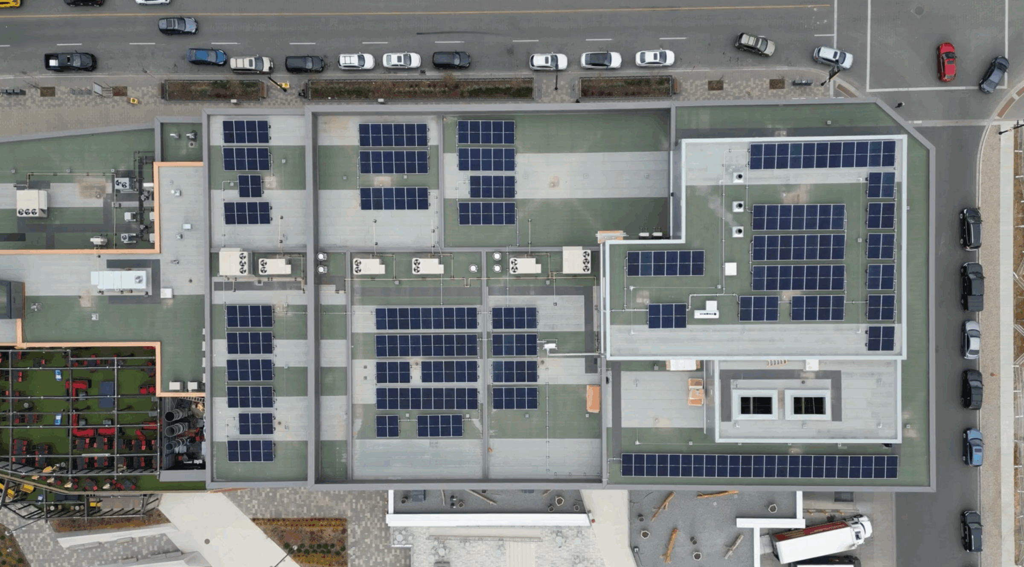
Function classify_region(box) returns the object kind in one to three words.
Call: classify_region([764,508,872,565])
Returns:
truck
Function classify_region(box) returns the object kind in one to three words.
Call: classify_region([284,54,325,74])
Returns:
car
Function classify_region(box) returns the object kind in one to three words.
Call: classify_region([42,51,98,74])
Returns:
truck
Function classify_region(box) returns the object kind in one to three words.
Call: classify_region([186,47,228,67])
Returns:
car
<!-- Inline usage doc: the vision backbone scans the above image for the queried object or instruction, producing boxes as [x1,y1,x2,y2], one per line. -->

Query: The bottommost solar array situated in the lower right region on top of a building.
[619,454,900,478]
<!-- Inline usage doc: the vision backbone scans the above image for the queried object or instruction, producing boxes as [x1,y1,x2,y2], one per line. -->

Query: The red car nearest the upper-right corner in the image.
[935,43,958,83]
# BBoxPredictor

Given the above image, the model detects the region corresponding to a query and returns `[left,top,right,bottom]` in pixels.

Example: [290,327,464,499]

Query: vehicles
[186,47,228,67]
[431,50,471,70]
[0,0,23,9]
[960,321,983,360]
[812,46,853,70]
[960,370,984,411]
[787,551,854,567]
[284,54,325,74]
[635,48,675,69]
[529,52,568,72]
[580,50,621,70]
[935,43,958,83]
[959,263,985,312]
[764,508,872,565]
[961,428,984,468]
[42,51,98,74]
[959,511,984,553]
[979,57,1008,96]
[229,54,274,75]
[156,15,200,37]
[734,32,775,59]
[337,52,376,72]
[382,51,422,71]
[959,208,984,250]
